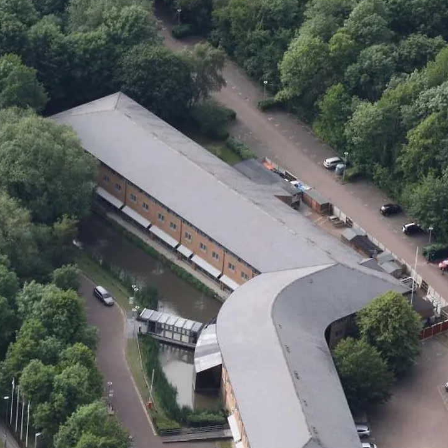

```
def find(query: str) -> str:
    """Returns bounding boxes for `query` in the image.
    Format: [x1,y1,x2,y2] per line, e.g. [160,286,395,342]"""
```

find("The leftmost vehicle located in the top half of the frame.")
[319,155,347,169]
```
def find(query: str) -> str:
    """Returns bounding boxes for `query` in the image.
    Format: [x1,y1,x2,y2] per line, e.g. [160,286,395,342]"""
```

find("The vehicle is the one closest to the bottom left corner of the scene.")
[94,284,111,305]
